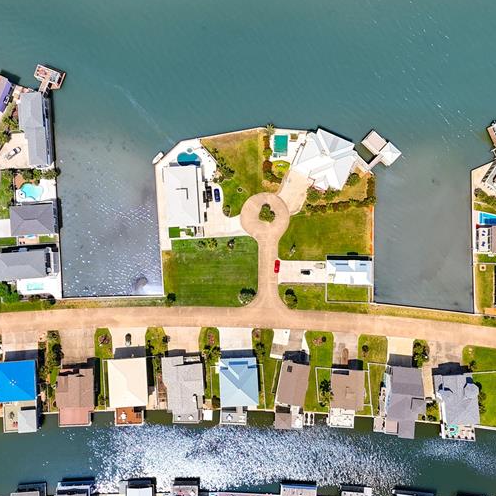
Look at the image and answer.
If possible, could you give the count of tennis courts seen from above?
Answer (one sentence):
I count no tennis courts.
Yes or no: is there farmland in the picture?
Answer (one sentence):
No, there's no farmland in this view.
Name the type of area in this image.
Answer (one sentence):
This looks like a residential area.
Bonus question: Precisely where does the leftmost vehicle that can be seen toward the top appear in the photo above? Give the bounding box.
[6,147,22,160]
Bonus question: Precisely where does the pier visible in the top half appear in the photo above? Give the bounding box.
[33,64,67,94]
